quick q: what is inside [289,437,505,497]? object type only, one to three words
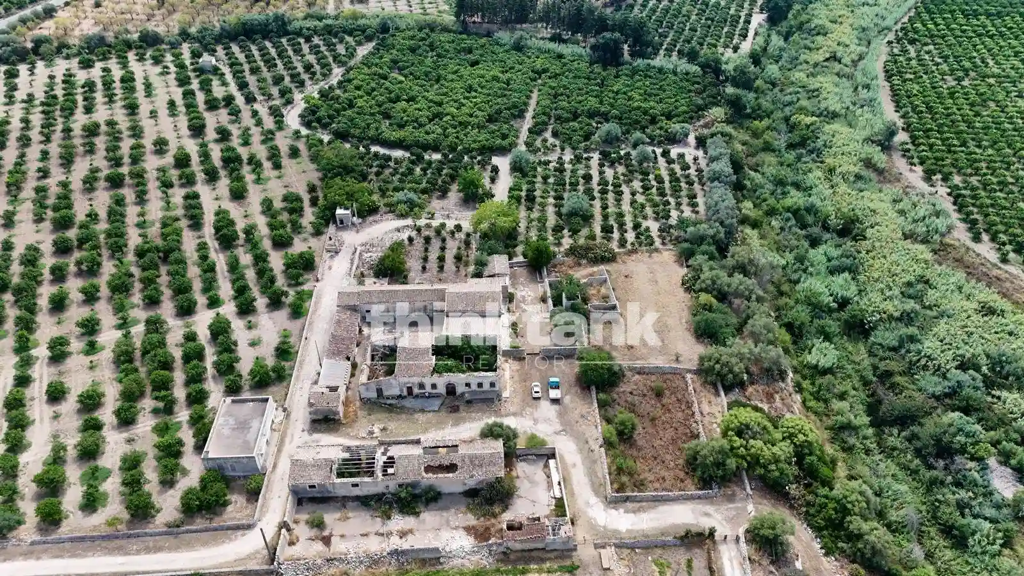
barn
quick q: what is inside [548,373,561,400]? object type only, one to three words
vehicle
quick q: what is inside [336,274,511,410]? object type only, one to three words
house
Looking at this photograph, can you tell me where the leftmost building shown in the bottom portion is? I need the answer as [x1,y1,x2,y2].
[202,396,277,476]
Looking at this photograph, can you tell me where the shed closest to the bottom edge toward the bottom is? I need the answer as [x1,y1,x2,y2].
[502,516,576,547]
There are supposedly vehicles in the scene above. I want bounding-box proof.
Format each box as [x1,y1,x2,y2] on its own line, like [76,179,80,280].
[531,380,542,397]
[548,373,561,400]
